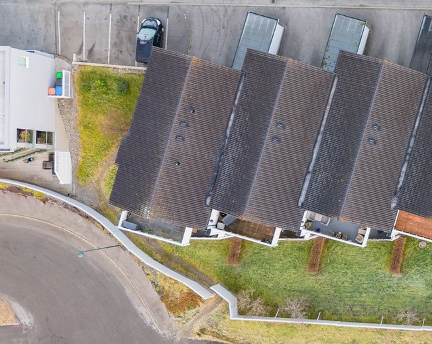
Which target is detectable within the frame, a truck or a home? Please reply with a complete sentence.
It is a home that can be seen here.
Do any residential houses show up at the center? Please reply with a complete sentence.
Yes, you'll find a residential house at the center.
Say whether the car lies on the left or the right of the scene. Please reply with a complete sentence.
The car is on the left side of the image.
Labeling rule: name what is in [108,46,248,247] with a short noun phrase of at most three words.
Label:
house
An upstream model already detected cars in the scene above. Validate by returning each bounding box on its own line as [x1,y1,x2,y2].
[136,18,165,64]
